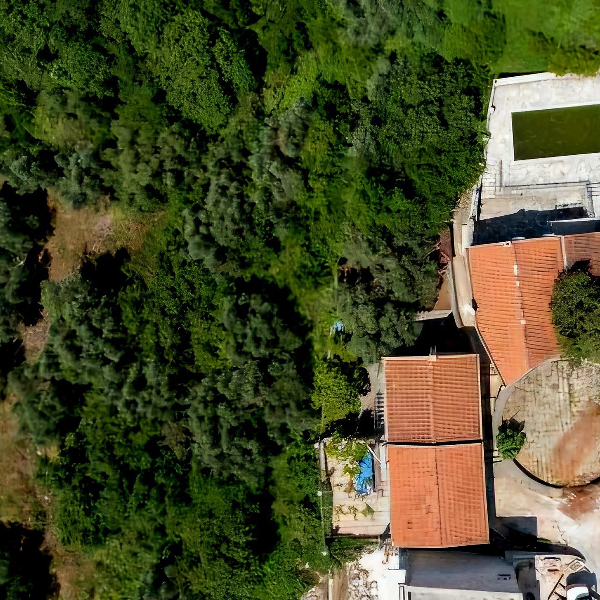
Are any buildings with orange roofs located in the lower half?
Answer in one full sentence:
Yes, a building with an orange roof can be seen in the lower half.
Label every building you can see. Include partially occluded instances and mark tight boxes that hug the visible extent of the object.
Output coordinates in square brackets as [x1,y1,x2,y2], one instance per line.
[381,353,483,442]
[399,584,523,600]
[469,235,566,385]
[387,443,490,548]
